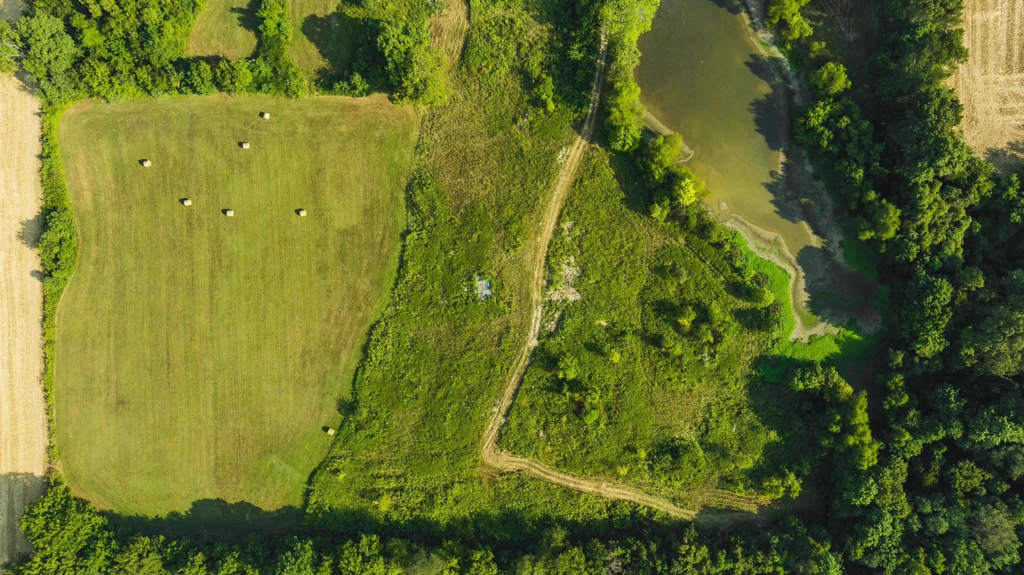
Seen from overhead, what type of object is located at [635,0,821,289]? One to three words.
pond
